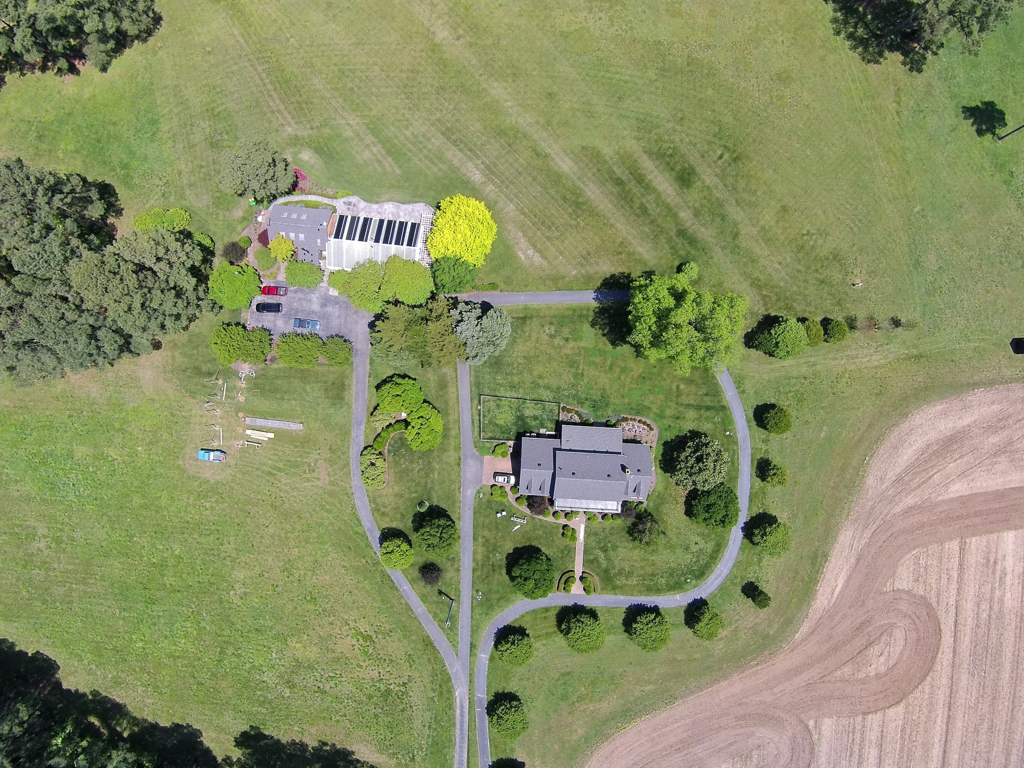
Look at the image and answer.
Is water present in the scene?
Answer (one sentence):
No, no water is visible.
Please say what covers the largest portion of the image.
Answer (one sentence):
What you mostly see from above here is grass.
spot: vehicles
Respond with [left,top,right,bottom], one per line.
[493,474,516,484]
[261,284,288,296]
[196,450,225,462]
[292,318,320,330]
[255,301,282,313]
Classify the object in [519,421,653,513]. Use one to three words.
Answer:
house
